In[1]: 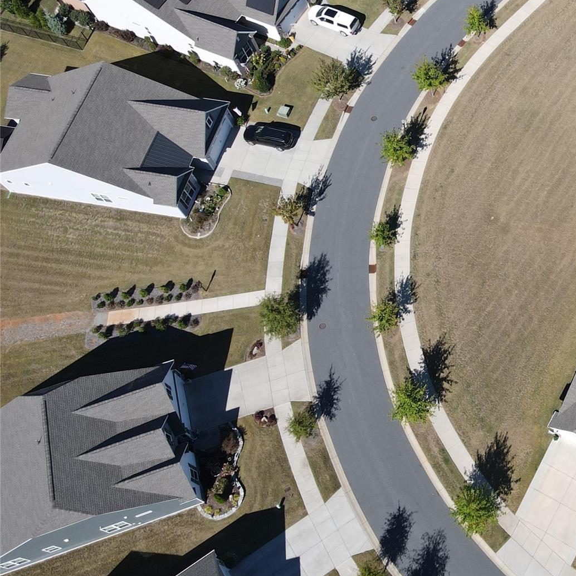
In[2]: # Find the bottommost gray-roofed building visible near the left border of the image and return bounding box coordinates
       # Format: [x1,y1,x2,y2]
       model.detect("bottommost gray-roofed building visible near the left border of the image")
[0,359,207,573]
